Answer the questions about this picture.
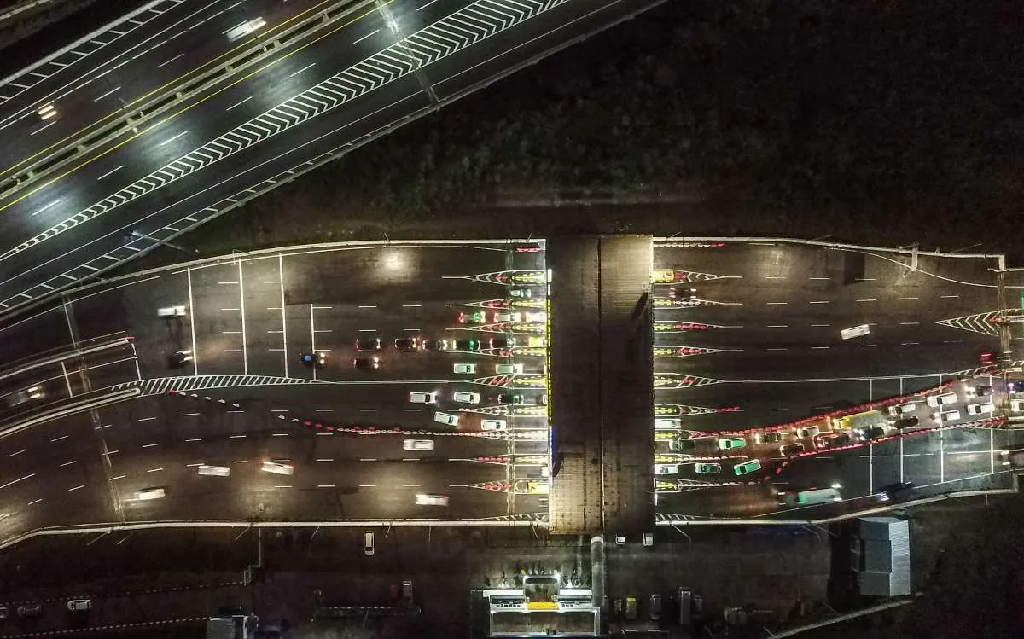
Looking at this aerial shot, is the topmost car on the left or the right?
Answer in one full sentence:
It is on the left.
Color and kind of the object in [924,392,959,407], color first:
white car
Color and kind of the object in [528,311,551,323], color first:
white vehicle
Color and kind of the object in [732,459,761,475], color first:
green car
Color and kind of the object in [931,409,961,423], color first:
white car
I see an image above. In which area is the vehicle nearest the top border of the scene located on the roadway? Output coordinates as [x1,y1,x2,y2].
[227,18,266,44]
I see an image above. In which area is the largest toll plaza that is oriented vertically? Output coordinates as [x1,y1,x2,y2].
[551,235,653,534]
